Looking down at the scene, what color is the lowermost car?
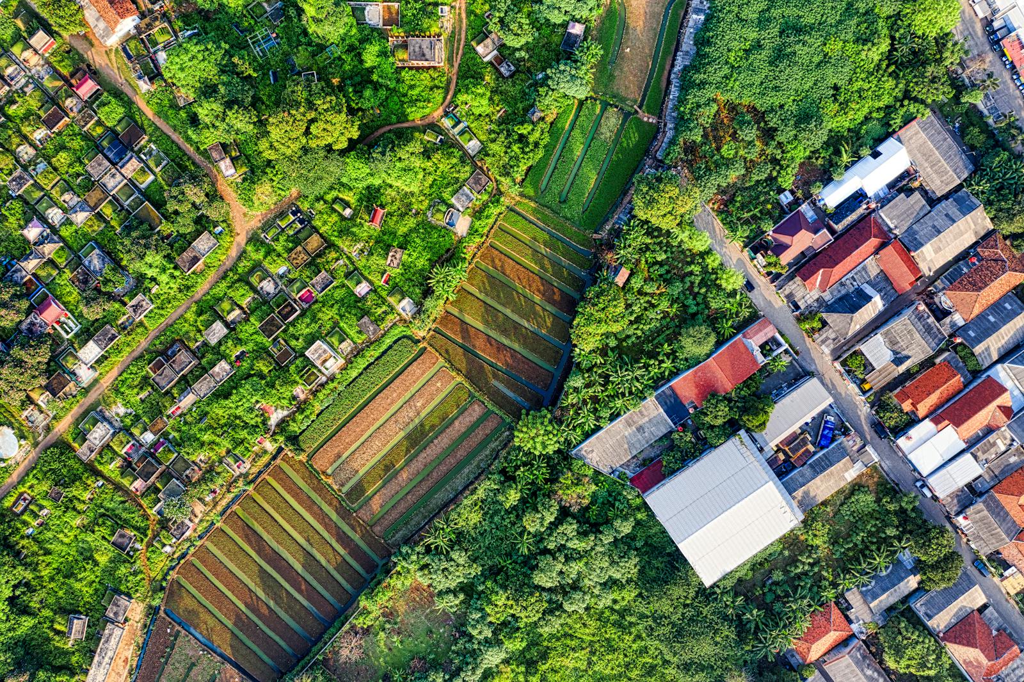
blue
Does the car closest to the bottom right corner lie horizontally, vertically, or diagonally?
diagonally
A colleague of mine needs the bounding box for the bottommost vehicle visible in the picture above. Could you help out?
[970,556,992,579]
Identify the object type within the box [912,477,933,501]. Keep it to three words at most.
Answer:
car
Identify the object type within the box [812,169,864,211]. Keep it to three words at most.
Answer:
shed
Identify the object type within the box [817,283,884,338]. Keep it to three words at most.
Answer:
house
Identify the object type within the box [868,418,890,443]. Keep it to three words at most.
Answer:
car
